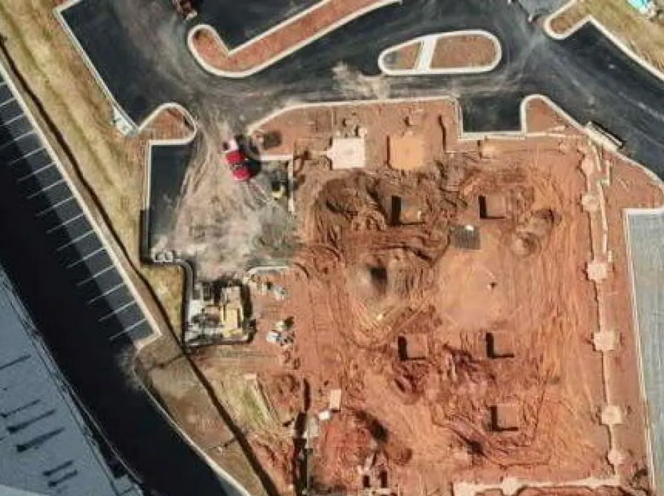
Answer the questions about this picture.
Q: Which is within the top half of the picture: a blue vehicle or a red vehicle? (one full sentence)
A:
Visible within the top half of the picture is a red vehicle.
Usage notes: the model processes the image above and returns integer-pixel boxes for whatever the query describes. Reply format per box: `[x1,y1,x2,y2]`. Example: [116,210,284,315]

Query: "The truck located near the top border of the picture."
[173,0,198,24]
